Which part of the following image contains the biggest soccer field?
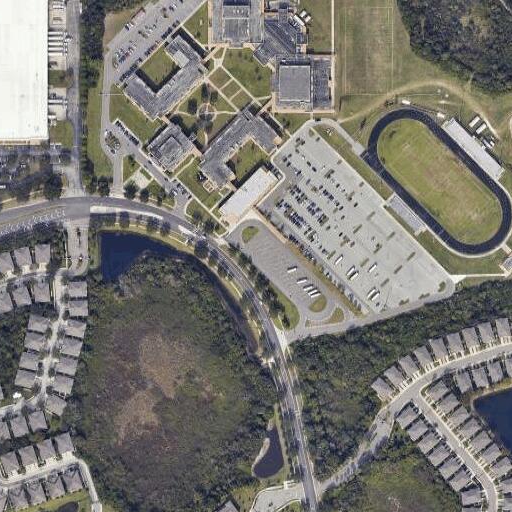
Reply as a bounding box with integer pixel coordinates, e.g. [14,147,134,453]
[377,118,503,244]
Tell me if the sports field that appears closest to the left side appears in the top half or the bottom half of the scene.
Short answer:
top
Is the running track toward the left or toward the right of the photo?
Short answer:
right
